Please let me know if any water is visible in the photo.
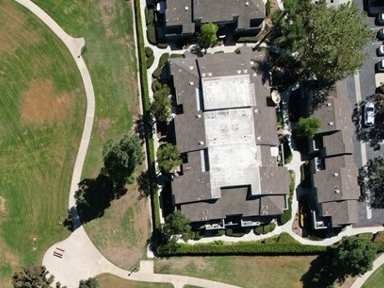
No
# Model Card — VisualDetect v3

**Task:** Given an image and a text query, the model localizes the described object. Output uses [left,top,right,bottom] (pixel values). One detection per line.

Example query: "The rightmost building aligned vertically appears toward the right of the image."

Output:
[302,77,360,227]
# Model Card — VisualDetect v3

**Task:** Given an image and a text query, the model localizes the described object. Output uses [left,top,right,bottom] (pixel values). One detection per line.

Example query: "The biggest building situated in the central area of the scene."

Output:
[167,49,289,223]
